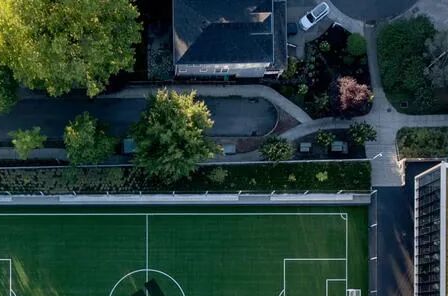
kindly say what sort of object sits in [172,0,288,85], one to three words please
house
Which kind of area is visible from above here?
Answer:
sports ground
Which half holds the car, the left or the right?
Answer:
right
